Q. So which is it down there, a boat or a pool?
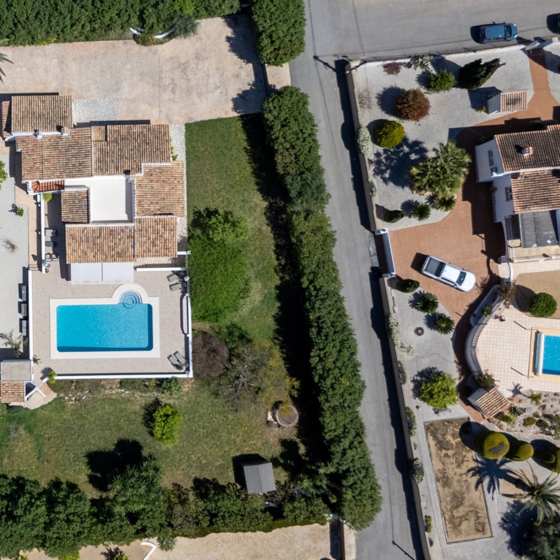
pool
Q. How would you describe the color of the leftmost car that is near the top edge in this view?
blue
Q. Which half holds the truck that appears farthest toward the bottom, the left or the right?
right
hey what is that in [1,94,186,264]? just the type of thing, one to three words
house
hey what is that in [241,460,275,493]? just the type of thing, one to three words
shed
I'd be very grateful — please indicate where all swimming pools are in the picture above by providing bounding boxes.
[529,328,560,383]
[50,284,159,359]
